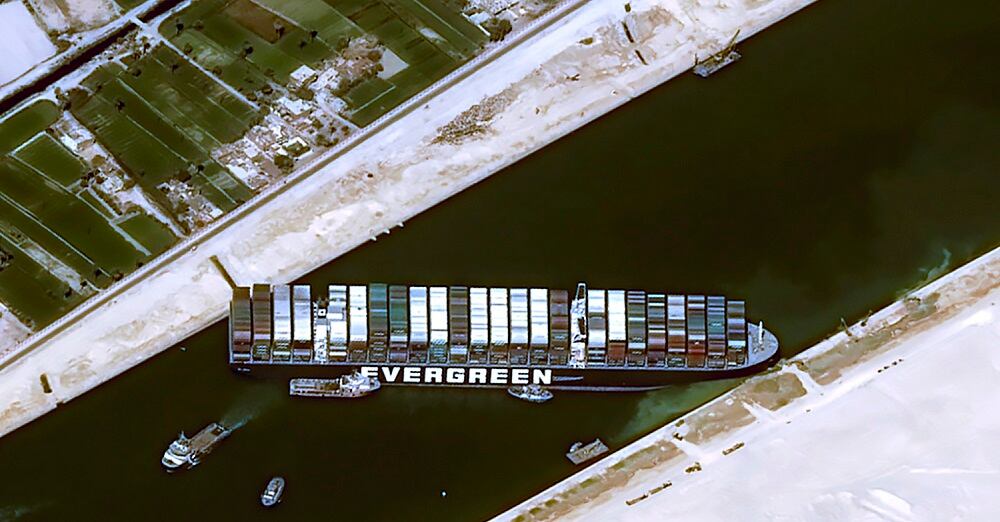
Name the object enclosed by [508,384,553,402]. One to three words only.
boat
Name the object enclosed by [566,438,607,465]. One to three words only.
ship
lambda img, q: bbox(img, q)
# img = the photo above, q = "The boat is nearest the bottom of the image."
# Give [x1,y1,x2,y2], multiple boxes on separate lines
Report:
[262,480,285,505]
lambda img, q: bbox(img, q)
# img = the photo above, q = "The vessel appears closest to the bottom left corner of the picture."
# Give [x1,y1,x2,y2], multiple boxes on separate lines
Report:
[164,422,229,466]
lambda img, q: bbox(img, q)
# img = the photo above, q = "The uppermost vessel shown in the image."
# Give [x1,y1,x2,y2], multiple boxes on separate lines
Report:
[694,29,744,80]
